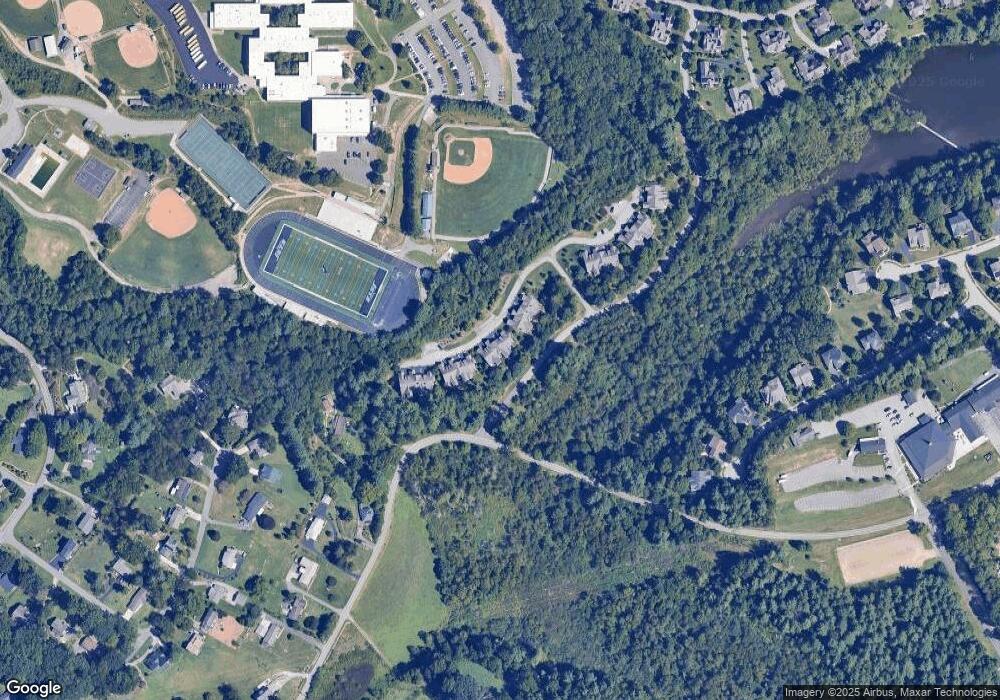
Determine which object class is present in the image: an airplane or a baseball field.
baseball field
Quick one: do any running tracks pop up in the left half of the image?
Yes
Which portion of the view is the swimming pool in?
top left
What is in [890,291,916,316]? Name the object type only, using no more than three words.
house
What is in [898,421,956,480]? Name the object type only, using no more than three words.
building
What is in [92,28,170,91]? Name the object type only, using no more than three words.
baseball field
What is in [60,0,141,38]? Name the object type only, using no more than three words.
baseball field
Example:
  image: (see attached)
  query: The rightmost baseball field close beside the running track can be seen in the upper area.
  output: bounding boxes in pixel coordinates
[436,128,549,243]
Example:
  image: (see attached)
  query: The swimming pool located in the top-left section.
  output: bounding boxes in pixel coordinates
[16,144,67,197]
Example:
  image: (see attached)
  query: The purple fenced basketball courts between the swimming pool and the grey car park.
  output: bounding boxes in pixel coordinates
[72,154,118,200]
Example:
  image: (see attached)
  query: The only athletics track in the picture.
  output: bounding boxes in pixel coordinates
[244,211,422,333]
